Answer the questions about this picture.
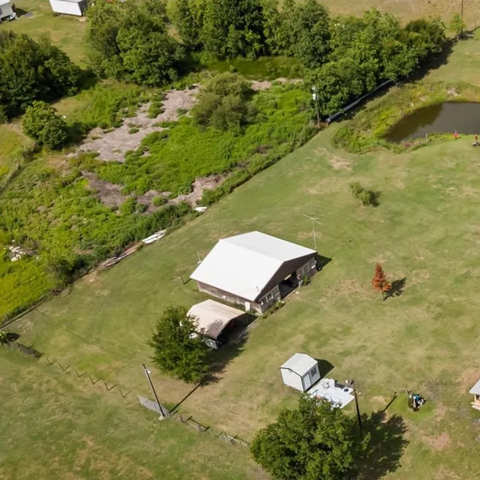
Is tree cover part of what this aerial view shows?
Yes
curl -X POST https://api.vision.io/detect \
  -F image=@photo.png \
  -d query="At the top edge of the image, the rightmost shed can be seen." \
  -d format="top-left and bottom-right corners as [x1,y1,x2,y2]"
[54,1,95,24]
